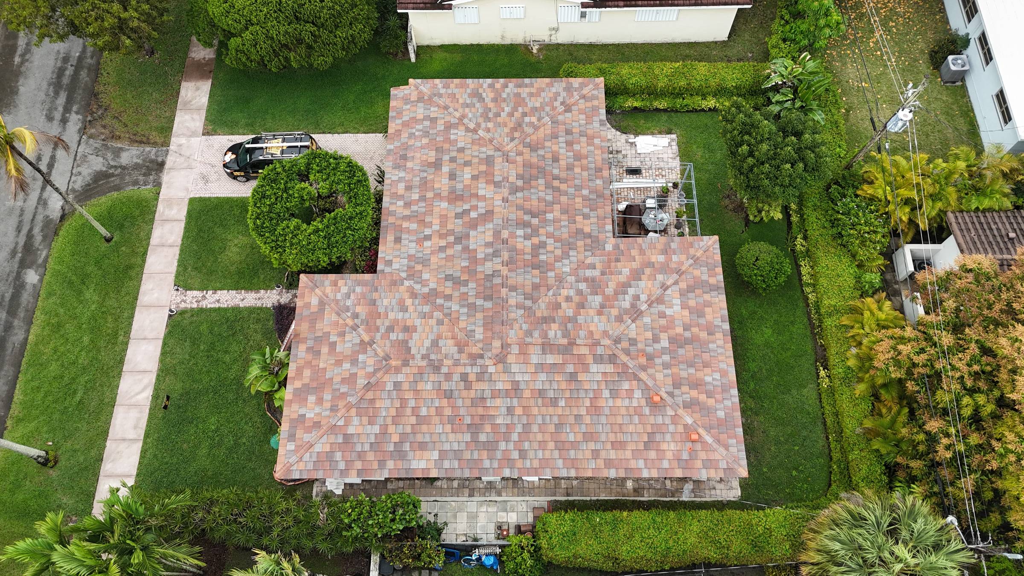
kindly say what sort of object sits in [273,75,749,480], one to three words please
house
